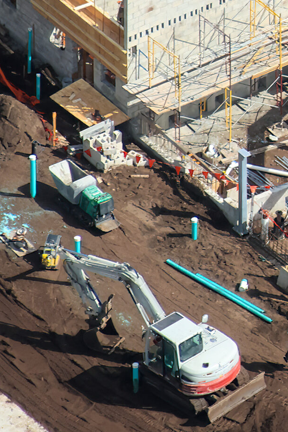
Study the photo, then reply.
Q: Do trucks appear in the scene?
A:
Yes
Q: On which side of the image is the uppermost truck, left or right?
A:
left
